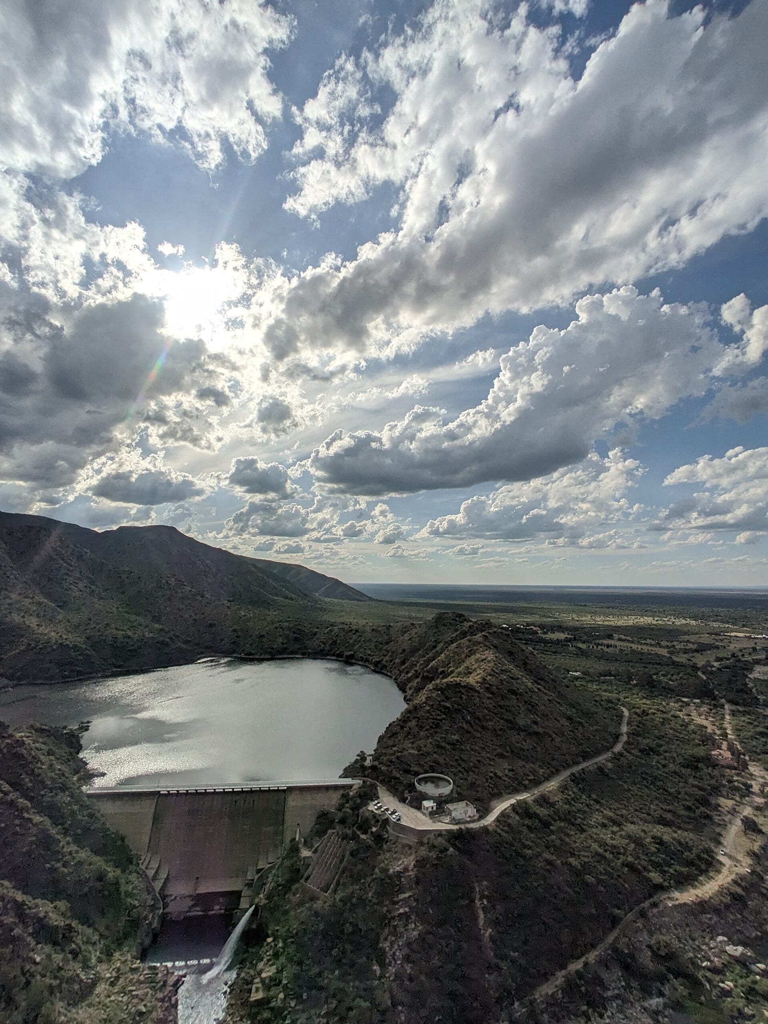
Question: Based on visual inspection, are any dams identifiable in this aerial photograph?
Yes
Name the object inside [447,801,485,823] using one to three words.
building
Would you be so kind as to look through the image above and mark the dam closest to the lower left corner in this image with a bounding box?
[154,960,217,980]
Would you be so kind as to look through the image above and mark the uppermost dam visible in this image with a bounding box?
[87,773,371,914]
